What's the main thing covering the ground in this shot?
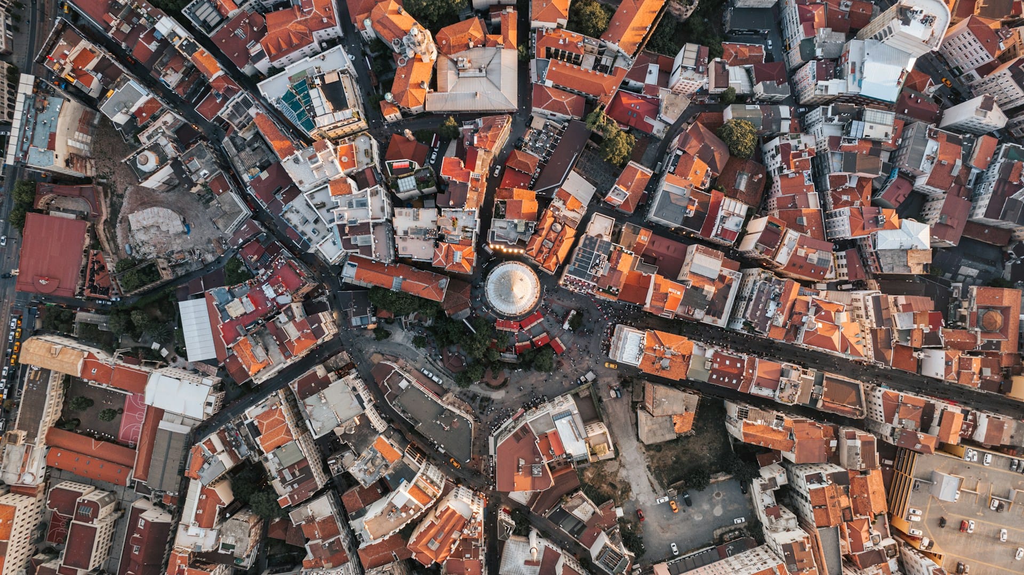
buildings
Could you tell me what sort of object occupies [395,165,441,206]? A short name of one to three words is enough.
building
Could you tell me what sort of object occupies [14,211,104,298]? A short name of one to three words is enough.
building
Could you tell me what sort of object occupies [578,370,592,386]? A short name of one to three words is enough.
vehicle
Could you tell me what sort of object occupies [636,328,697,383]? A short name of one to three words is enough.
house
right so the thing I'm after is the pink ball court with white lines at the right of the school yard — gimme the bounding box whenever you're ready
[120,394,144,440]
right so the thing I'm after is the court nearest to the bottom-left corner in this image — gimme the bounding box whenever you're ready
[48,513,69,546]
